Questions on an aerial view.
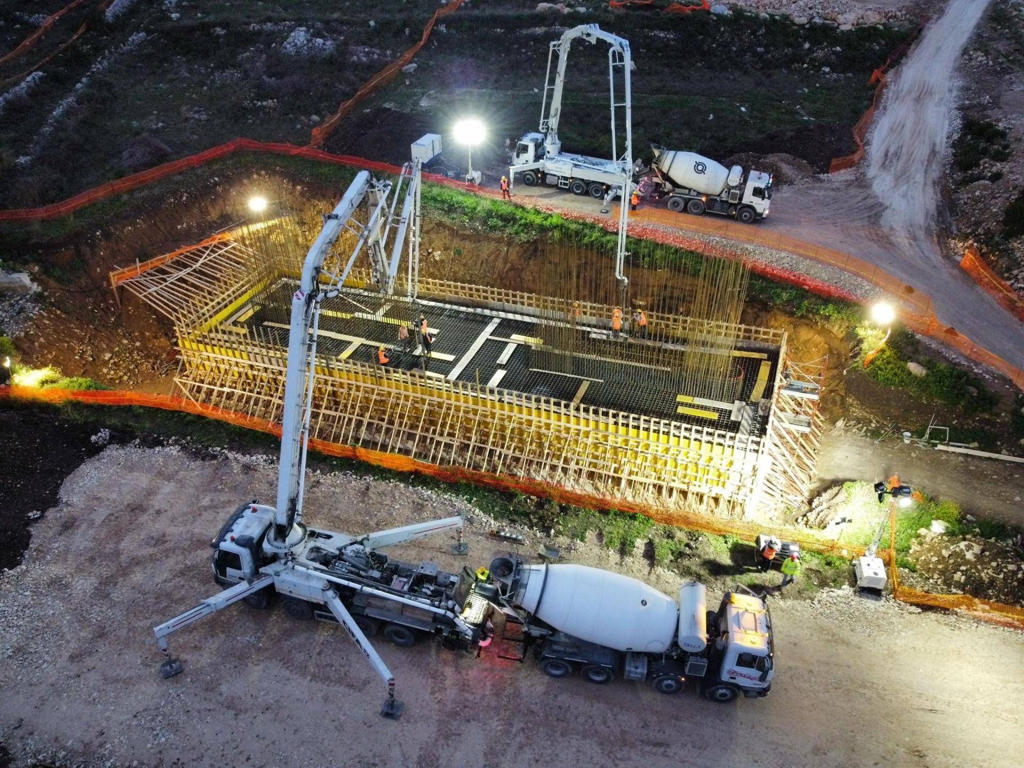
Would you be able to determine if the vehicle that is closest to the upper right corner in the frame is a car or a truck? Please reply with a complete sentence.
The vehicle that is closest to the upper right corner in the image is a truck.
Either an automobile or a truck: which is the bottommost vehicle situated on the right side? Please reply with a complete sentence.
It looks like the bottommost vehicle situated on the right side is a truck.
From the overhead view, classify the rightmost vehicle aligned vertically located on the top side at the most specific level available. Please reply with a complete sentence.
In the photo, the rightmost vehicle aligned vertically located on the top side shows up as a truck.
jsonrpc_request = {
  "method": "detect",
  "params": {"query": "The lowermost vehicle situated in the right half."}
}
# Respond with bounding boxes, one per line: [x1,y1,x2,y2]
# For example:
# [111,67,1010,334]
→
[474,551,791,703]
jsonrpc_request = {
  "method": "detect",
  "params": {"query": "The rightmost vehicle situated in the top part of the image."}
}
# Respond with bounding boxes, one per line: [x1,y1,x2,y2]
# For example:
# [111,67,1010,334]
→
[640,141,784,222]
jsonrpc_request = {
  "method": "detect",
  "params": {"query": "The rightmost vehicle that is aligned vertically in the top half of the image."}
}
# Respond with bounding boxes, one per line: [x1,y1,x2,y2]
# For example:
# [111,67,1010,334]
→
[507,23,639,332]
